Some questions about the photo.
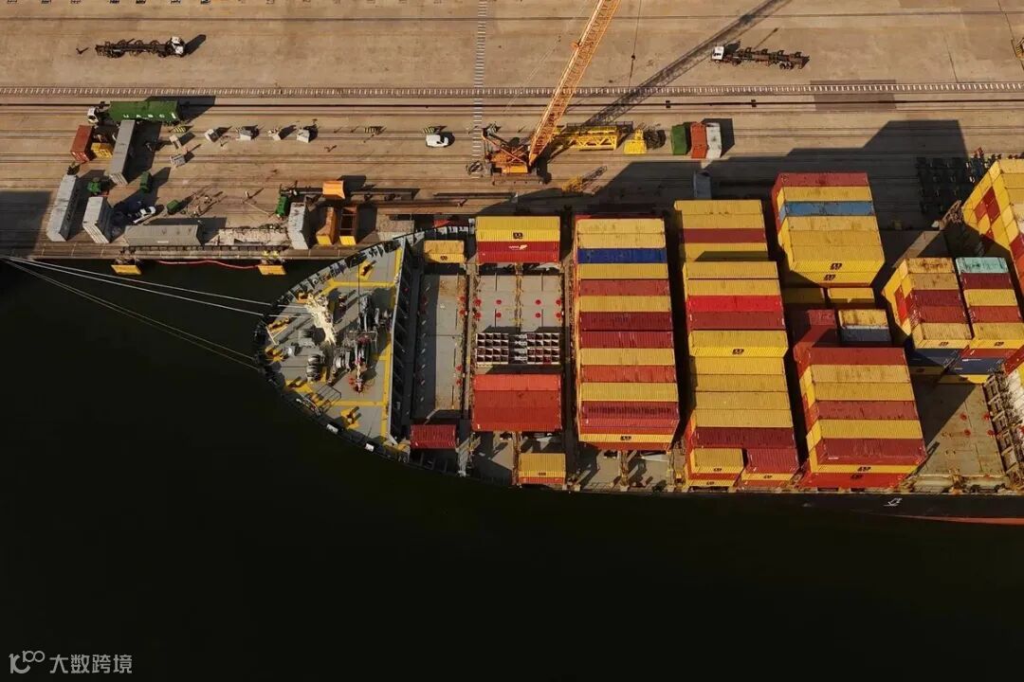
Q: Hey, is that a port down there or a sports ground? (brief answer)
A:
port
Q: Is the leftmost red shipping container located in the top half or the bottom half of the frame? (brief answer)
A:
top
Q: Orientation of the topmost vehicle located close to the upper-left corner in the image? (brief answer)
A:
from left to right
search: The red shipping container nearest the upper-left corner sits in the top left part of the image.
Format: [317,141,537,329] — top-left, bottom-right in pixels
[71,124,97,160]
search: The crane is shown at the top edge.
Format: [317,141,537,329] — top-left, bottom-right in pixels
[477,0,644,187]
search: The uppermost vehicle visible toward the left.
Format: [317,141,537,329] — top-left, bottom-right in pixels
[100,38,191,58]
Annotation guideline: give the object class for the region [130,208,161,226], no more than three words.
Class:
vehicle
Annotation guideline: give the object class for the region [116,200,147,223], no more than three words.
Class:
truck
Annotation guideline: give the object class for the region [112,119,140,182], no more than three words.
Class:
shipping container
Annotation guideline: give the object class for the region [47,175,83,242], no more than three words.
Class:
shipping container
